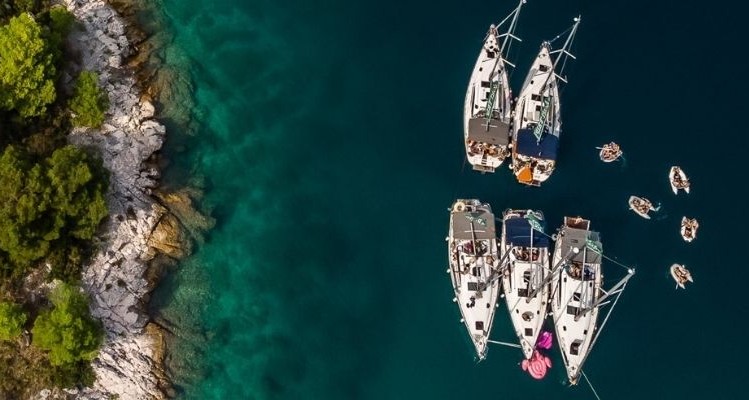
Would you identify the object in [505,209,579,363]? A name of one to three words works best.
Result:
boat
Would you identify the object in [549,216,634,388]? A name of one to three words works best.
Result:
boat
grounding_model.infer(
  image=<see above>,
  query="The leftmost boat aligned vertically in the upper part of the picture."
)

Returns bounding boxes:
[466,0,524,174]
